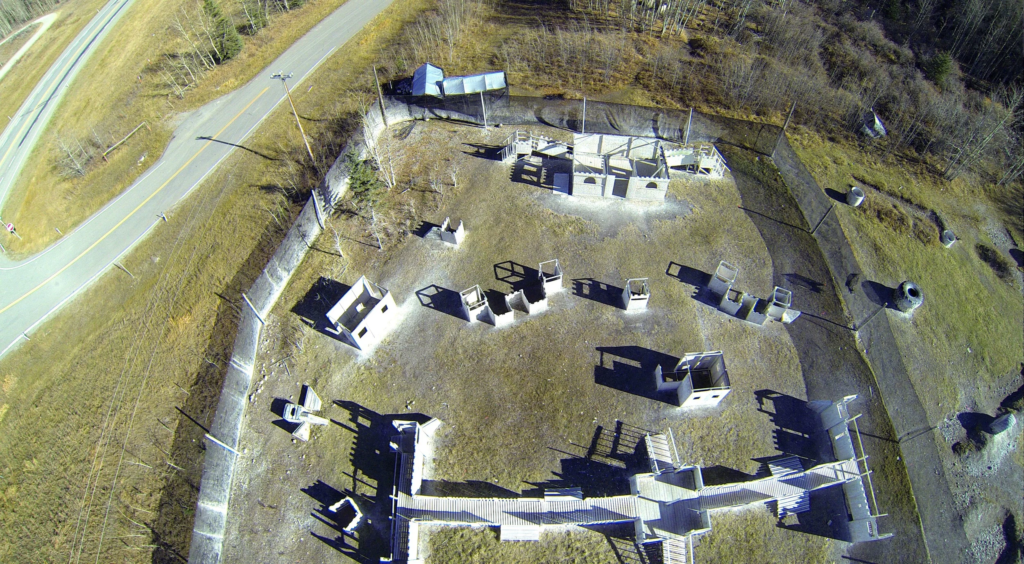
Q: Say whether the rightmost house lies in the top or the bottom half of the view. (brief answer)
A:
bottom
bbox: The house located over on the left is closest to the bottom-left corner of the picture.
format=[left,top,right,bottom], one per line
[325,271,398,351]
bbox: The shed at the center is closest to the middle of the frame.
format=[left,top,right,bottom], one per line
[440,218,465,245]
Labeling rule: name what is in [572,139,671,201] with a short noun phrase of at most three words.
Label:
house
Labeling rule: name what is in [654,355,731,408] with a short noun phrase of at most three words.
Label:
house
